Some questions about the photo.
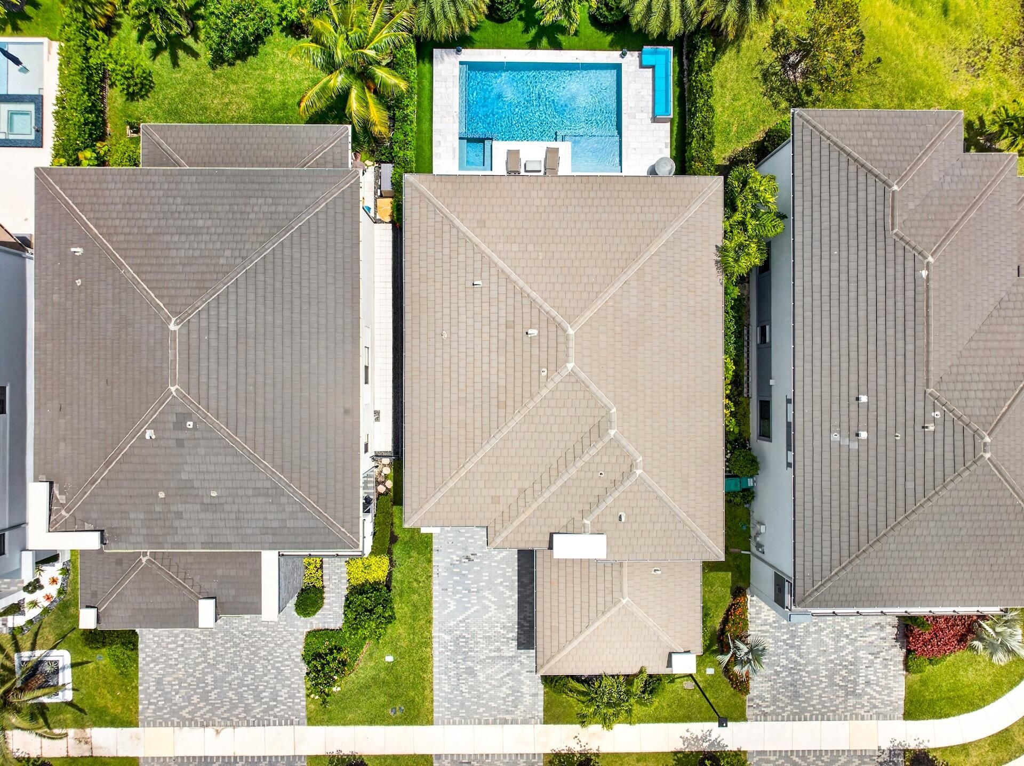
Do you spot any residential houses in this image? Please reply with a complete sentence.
Yes, you can see a residential house in this photo.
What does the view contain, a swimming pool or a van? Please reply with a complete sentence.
The image shows a swimming pool.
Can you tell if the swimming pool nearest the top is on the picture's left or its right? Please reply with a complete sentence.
You can find the swimming pool nearest the top on the left side of the picture.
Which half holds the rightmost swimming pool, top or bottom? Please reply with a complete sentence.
Seen from above, the rightmost swimming pool lies in the top half of the view.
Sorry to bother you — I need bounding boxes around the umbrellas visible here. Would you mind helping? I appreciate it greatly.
[0,48,28,70]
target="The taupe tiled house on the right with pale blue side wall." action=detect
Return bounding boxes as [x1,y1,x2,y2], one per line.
[743,107,1024,627]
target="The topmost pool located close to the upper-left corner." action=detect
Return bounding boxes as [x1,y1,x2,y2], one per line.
[0,42,43,94]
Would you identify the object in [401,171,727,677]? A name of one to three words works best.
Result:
house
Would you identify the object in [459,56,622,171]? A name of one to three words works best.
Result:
swimming pool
